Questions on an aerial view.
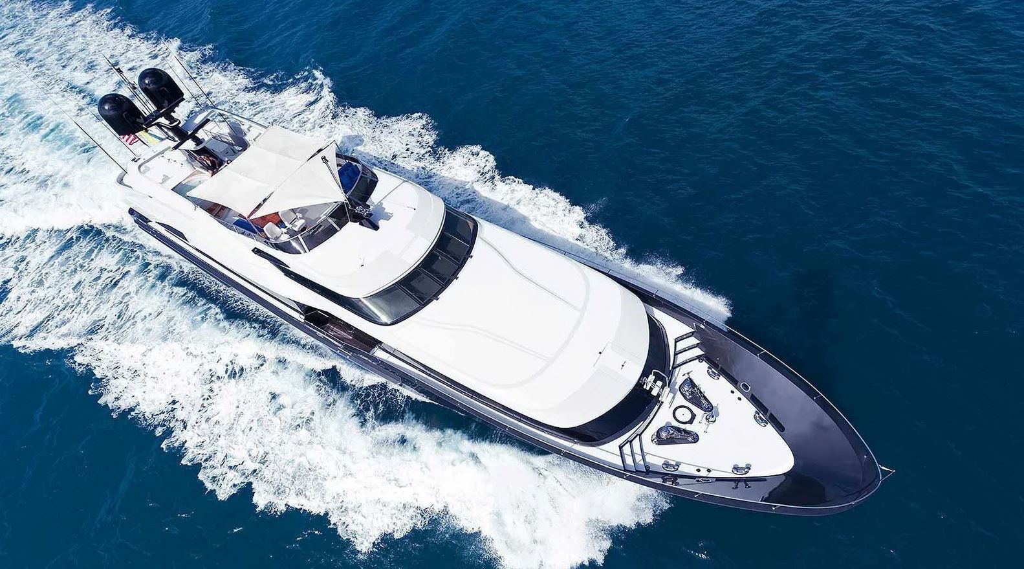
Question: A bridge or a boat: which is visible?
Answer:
boat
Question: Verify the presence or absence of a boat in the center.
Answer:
Yes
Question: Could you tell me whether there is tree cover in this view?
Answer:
No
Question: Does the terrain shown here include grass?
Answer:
No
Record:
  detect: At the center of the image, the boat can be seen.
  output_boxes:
[47,21,895,515]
